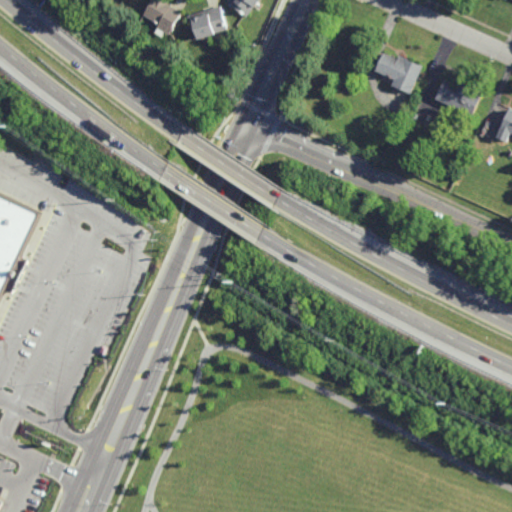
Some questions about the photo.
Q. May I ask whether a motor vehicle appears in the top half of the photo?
Yes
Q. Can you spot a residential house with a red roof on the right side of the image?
No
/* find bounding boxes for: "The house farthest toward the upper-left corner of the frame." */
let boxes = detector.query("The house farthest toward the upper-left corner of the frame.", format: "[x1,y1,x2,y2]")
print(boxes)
[142,0,188,38]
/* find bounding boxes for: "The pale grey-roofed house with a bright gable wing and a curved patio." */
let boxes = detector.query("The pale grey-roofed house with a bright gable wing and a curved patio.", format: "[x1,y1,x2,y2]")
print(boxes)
[373,54,422,94]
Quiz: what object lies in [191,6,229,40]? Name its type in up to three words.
house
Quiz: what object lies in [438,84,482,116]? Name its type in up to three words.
house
